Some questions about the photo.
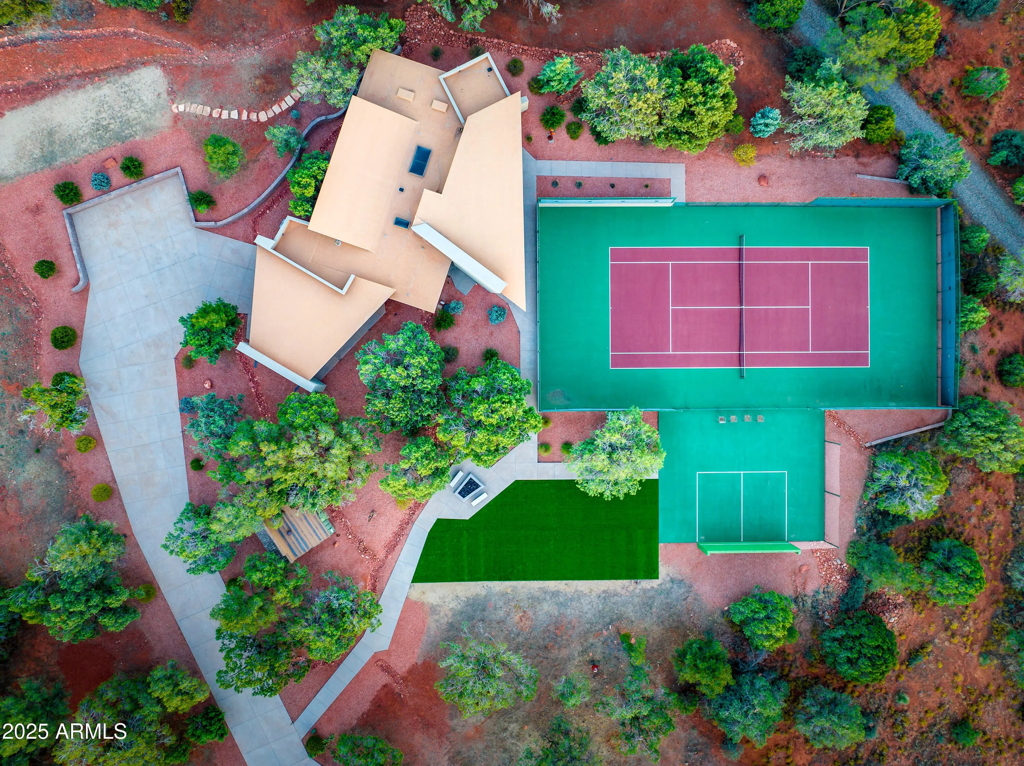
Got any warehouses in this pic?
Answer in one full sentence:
No, the photo shows no warehouse.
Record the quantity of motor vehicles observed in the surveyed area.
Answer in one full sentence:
The photo contains no motor vehicles.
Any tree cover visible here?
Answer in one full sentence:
Yes, tree cover can be seen from above here.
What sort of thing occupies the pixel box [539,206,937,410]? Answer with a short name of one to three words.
tennis court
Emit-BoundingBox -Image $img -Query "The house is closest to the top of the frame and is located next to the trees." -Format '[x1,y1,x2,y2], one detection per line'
[237,49,528,392]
